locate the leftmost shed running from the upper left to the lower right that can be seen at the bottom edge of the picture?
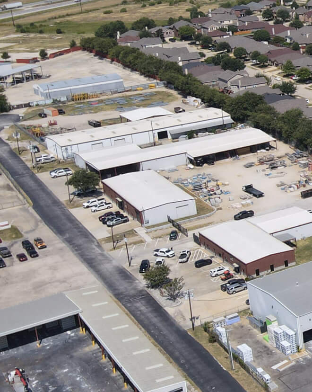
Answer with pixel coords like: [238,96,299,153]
[67,281,184,392]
